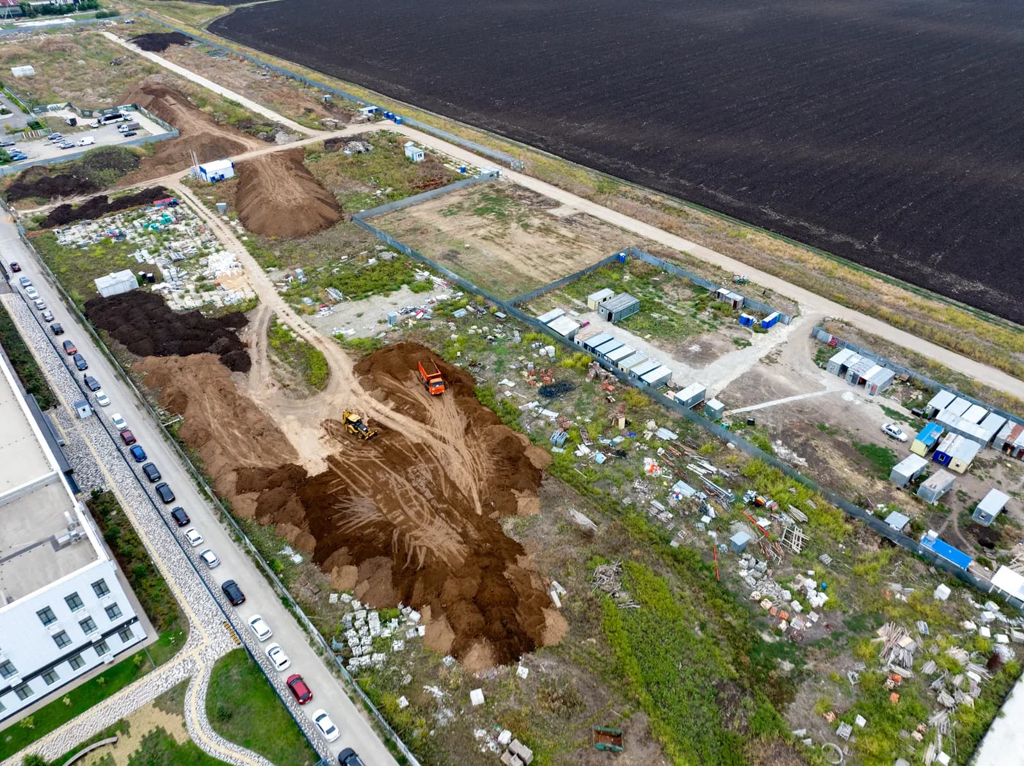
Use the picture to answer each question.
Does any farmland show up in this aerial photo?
Yes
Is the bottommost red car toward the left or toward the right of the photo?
left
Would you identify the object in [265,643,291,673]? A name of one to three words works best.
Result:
car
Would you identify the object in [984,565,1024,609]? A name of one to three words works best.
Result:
building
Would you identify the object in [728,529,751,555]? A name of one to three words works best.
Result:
shed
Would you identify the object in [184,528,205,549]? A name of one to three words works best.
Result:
car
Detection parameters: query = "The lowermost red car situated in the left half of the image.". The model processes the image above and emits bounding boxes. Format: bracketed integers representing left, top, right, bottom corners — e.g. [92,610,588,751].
[286,675,312,705]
